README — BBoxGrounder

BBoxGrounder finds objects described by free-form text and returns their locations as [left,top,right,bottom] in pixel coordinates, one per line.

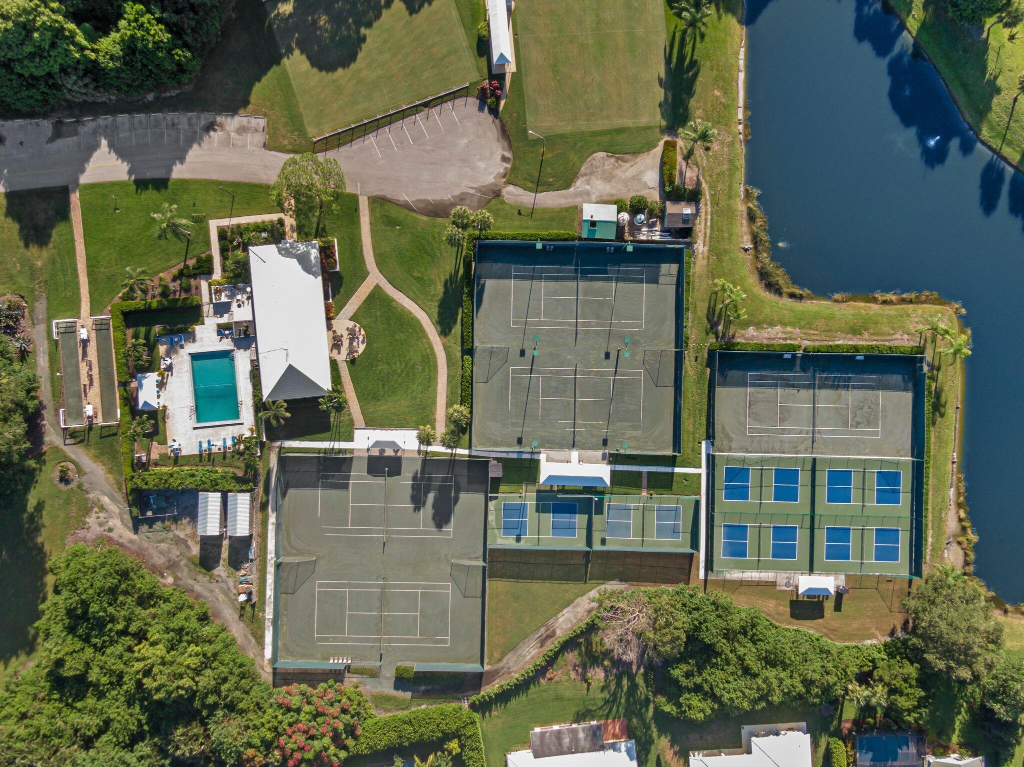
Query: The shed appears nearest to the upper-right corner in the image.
[663,202,695,229]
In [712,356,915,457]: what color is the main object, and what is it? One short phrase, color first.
gray tennis court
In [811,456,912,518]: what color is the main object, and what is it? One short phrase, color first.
green sports court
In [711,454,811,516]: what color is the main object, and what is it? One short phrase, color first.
green sports court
